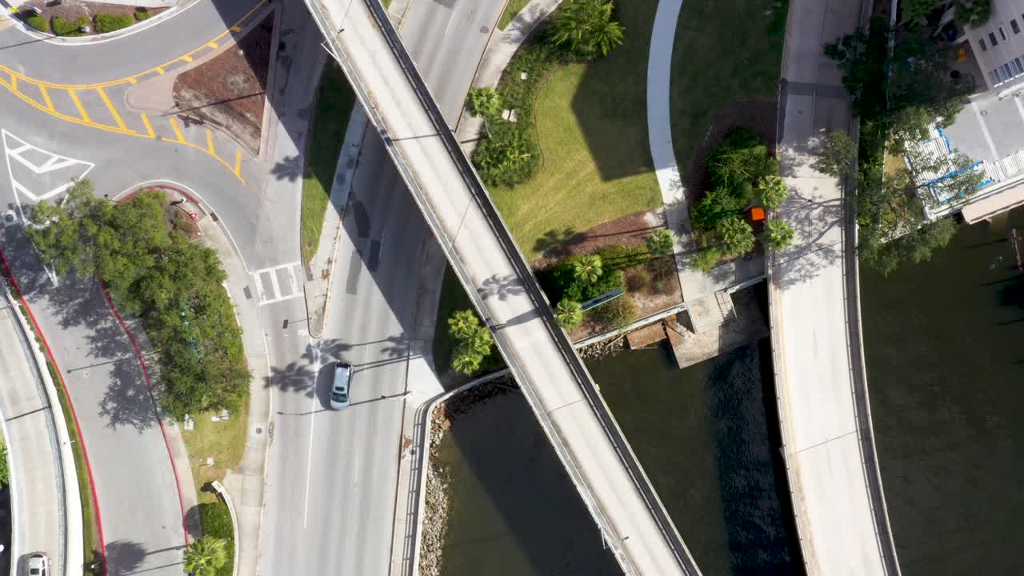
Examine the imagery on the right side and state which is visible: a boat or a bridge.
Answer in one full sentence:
You can see a bridge on the right side.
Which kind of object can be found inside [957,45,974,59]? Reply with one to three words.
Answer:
umbrella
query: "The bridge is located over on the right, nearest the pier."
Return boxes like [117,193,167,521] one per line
[768,0,903,576]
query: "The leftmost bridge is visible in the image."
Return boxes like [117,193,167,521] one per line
[304,0,702,576]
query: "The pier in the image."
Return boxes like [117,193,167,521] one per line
[962,182,1024,225]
